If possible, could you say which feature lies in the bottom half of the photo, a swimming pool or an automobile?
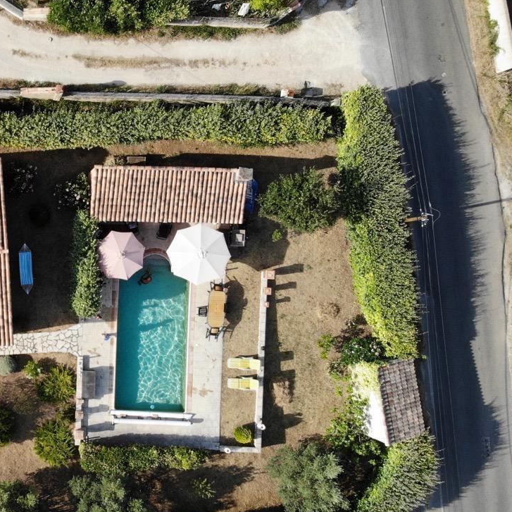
swimming pool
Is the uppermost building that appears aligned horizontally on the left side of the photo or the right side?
left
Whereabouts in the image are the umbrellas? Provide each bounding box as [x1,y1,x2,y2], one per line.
[97,233,143,280]
[166,226,226,284]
